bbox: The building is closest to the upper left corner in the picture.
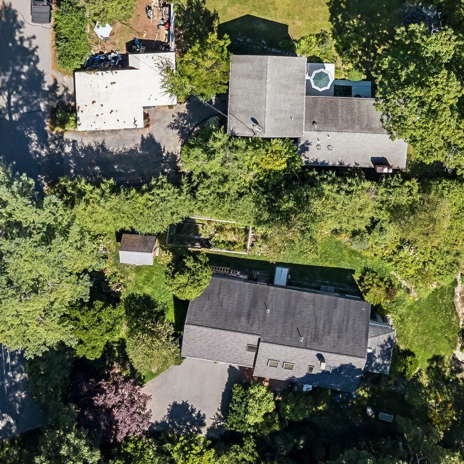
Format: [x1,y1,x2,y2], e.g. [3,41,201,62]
[75,53,178,131]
